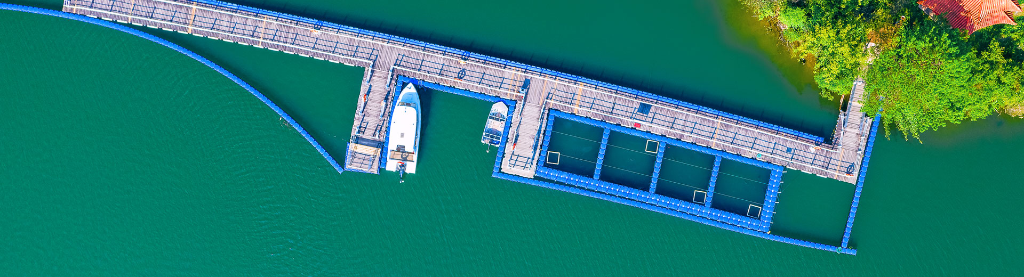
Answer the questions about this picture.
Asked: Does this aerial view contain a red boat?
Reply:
No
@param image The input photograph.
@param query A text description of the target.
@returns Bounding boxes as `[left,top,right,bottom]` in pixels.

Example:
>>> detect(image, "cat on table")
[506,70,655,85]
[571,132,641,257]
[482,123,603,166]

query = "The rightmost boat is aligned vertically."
[481,101,508,152]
